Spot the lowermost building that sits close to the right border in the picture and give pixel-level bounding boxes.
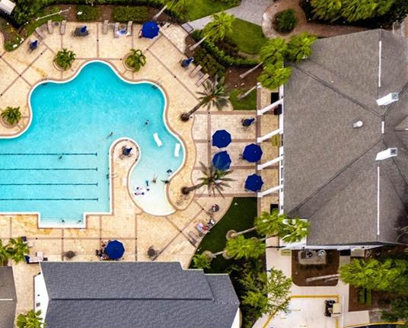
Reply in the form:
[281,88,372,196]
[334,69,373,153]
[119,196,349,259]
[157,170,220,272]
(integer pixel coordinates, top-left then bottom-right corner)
[257,29,408,248]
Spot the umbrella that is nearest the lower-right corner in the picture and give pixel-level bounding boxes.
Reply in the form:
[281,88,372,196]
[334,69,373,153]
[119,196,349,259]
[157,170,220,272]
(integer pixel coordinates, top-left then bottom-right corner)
[243,174,263,193]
